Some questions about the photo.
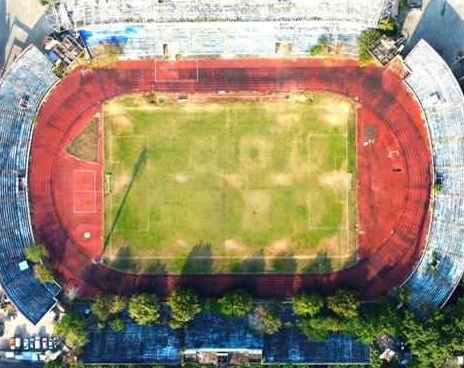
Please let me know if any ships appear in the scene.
No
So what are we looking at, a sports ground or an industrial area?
sports ground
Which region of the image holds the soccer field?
center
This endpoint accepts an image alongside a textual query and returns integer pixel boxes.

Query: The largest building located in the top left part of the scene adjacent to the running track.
[54,34,89,64]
